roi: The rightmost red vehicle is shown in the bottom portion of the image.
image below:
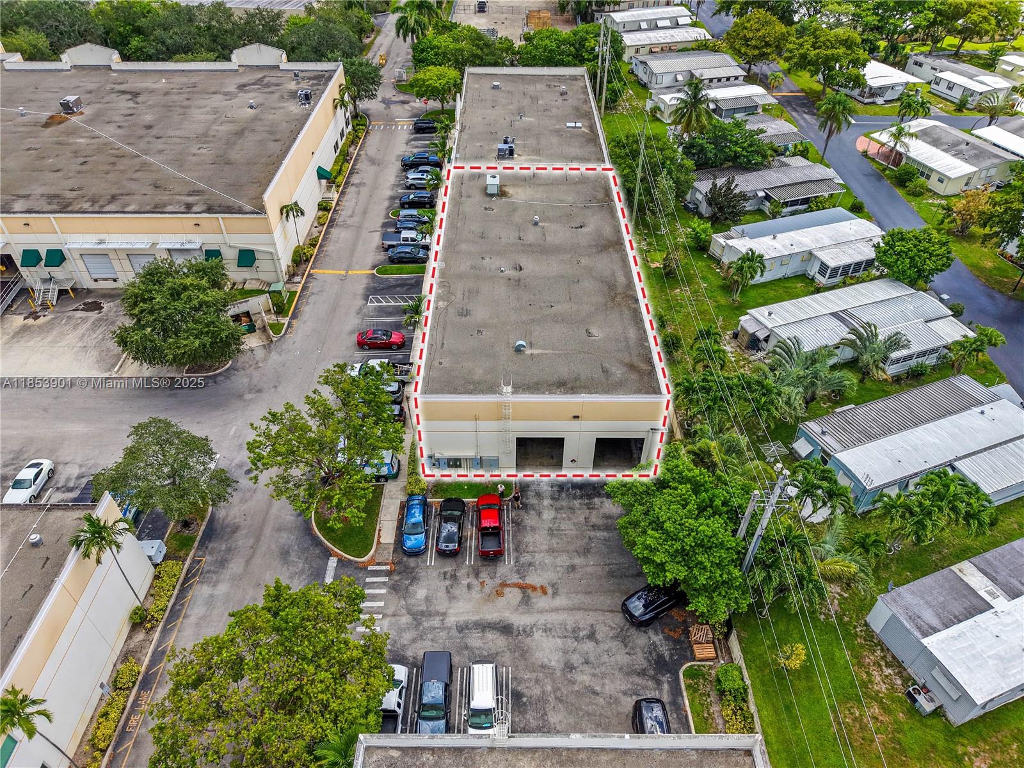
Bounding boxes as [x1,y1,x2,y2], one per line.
[474,491,506,562]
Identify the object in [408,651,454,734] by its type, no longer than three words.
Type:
vehicle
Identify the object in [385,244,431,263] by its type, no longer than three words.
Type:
car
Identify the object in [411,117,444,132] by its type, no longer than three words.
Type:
car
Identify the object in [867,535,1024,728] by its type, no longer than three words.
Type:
house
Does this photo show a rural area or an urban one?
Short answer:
urban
